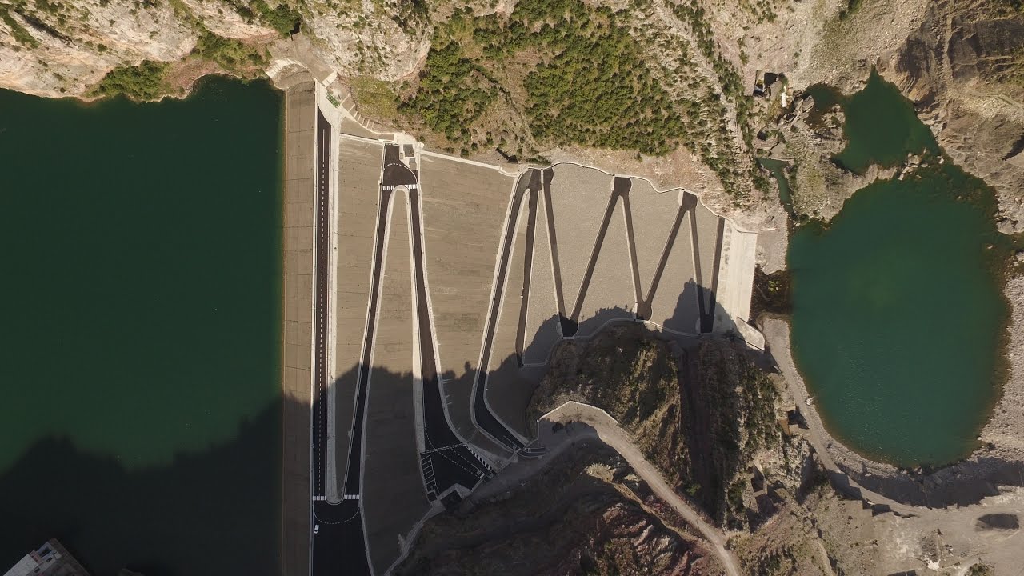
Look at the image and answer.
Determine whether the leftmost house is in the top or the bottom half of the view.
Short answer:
bottom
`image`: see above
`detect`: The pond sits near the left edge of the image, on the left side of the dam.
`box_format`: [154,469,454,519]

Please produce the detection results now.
[0,77,283,576]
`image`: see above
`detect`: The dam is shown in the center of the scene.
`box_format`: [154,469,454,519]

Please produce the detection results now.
[272,78,765,576]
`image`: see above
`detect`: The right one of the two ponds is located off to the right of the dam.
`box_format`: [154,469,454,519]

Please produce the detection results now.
[794,81,1000,460]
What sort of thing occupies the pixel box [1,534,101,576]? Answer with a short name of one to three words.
house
